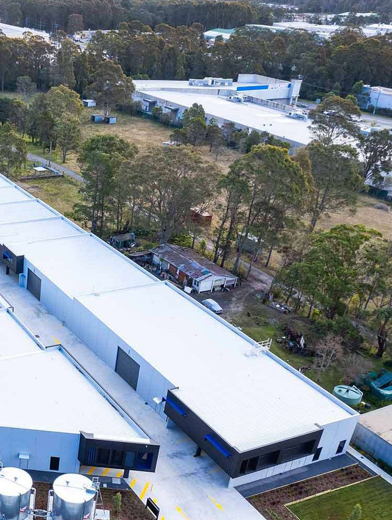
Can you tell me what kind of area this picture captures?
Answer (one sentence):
This looks like an industrial area.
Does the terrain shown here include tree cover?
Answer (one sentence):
Yes, tree cover shows up in the scene.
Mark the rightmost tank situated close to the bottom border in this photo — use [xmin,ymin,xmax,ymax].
[49,473,112,520]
